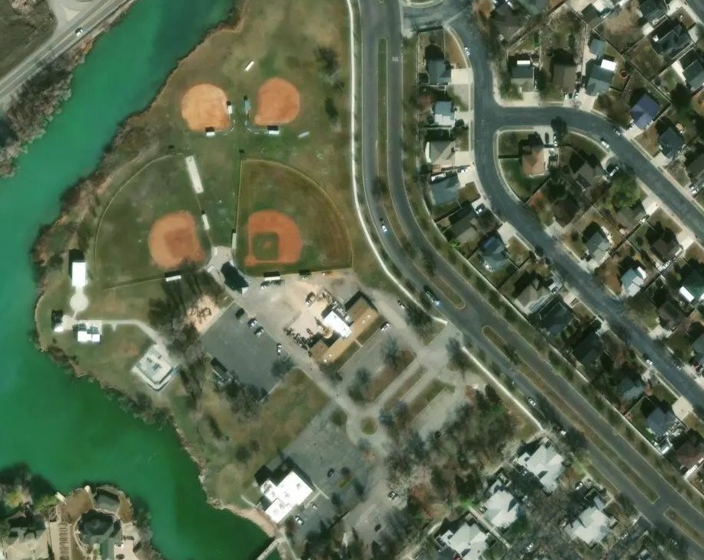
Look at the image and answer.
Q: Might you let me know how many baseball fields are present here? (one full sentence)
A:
My tally gives 4 baseball fields in this view.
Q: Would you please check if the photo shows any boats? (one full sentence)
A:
No, I can see no boat in this picture.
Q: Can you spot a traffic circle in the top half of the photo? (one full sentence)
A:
No, the scene shows no traffic circle in the top half of the photo.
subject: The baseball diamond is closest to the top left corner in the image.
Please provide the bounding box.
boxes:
[181,82,234,135]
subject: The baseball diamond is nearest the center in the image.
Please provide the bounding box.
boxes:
[235,160,353,278]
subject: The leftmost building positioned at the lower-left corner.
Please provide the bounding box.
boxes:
[7,528,49,560]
